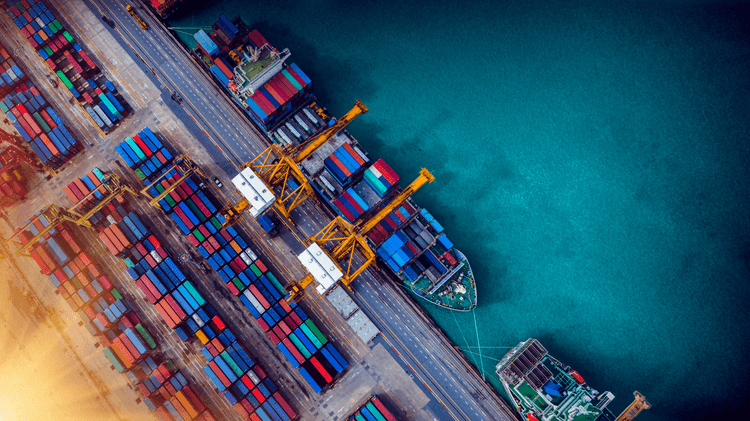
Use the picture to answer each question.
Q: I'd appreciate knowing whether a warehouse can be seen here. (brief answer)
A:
No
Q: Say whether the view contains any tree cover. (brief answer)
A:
No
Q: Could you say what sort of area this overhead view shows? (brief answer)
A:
port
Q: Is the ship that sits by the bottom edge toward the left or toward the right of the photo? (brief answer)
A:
right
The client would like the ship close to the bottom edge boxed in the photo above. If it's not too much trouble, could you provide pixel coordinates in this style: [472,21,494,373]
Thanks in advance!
[491,336,622,421]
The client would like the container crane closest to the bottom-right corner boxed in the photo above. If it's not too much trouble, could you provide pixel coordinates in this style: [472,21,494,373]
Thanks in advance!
[613,393,647,421]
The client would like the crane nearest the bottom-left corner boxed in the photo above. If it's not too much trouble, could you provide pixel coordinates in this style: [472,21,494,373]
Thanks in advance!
[0,201,90,266]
